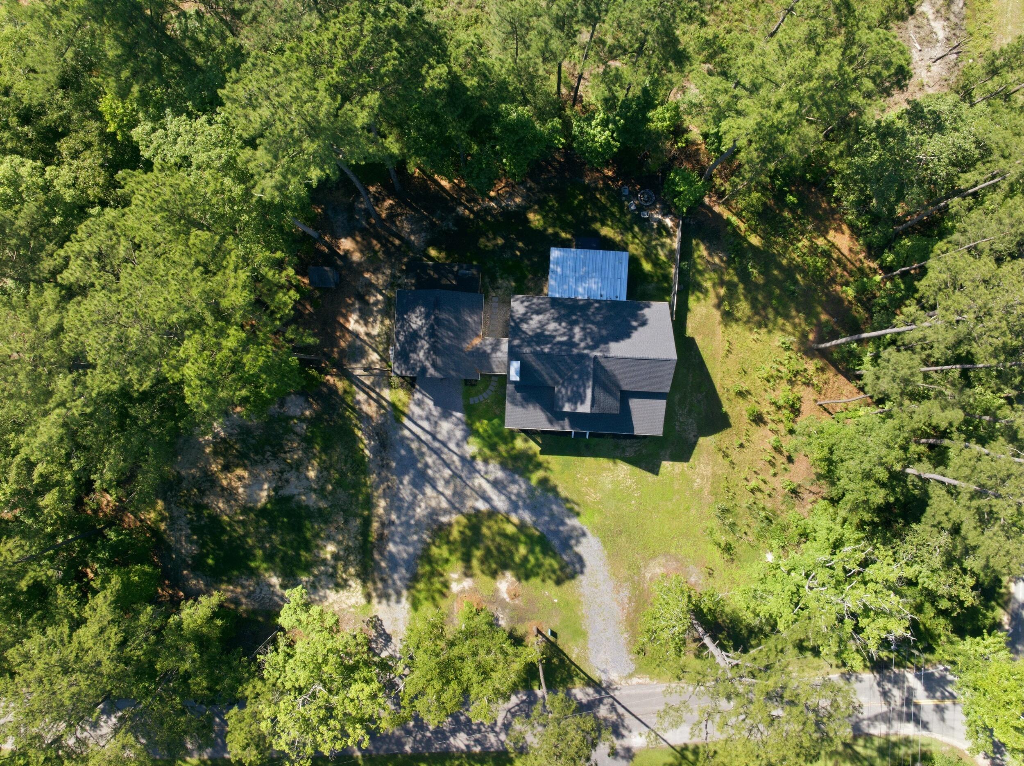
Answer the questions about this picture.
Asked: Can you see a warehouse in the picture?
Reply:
No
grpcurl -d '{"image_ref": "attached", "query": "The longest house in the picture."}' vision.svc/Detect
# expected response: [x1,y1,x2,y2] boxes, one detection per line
[392,287,677,439]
